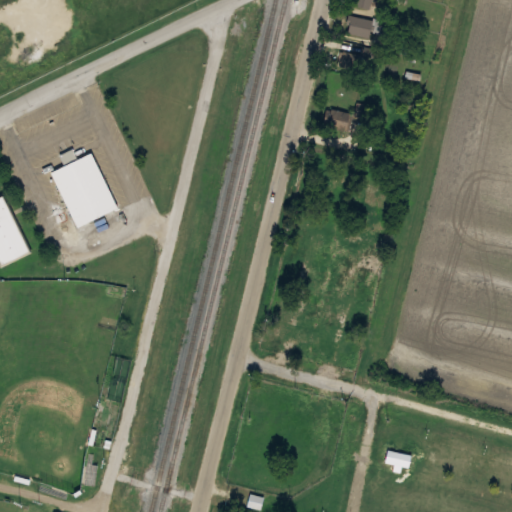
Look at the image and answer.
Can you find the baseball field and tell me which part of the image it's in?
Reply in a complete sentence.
The baseball field is in the bottom left part of the image.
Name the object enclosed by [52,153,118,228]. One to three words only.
shed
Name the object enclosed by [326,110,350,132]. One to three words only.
house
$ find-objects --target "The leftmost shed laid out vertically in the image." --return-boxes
[0,196,30,266]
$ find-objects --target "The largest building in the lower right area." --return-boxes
[386,450,412,474]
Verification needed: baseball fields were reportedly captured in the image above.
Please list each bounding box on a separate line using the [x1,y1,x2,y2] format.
[0,280,126,495]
